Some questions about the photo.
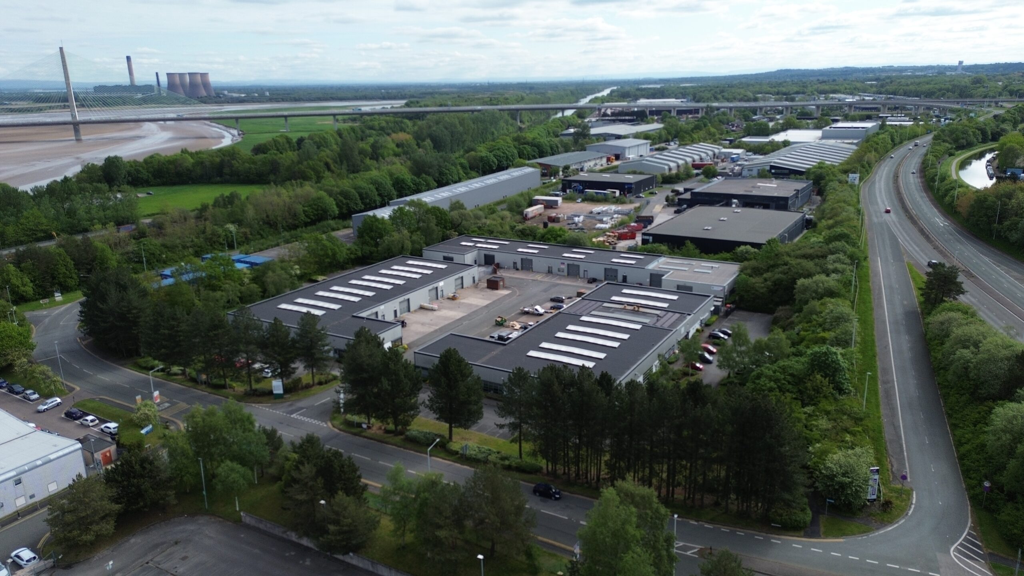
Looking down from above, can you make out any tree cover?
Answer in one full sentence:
Yes, tree cover can be seen from above here.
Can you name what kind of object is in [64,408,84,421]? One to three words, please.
vehicle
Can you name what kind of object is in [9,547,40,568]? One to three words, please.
car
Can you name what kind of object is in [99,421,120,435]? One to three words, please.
car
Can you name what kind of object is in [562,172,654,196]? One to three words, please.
building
